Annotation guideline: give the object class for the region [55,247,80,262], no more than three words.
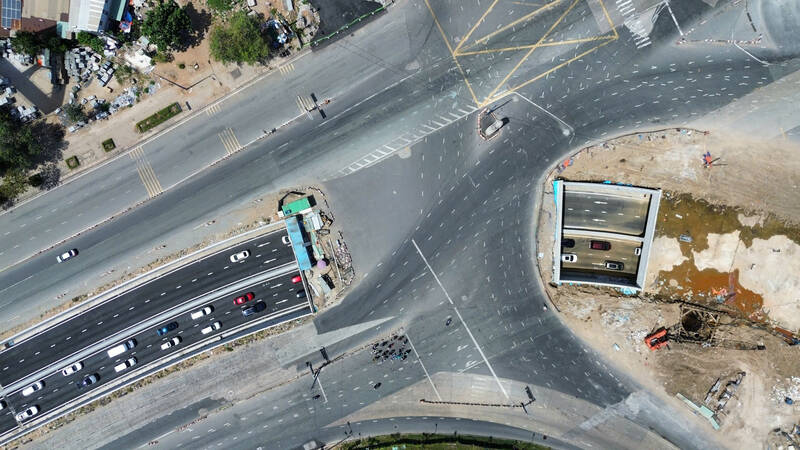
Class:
car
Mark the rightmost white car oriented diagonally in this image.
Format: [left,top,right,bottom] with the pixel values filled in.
[486,118,505,135]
